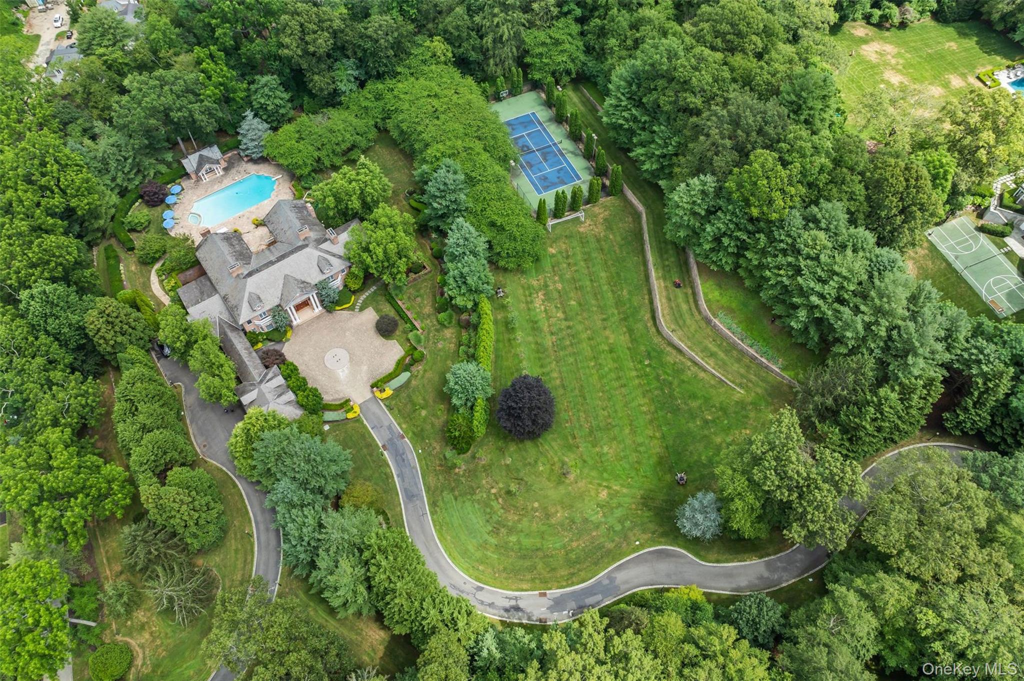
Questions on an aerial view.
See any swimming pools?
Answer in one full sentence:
Yes, the picture does show a swimming pool.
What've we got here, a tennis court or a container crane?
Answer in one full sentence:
Visible in the photo is a tennis court.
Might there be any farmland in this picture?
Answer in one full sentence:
No, no farmland is visible.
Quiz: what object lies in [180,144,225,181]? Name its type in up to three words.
building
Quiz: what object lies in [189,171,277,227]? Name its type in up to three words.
swimming pool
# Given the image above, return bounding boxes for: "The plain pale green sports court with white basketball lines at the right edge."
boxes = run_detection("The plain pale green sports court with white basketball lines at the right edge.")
[926,221,1024,319]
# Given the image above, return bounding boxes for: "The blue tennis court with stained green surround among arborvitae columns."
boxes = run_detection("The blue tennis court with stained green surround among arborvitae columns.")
[474,90,611,219]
